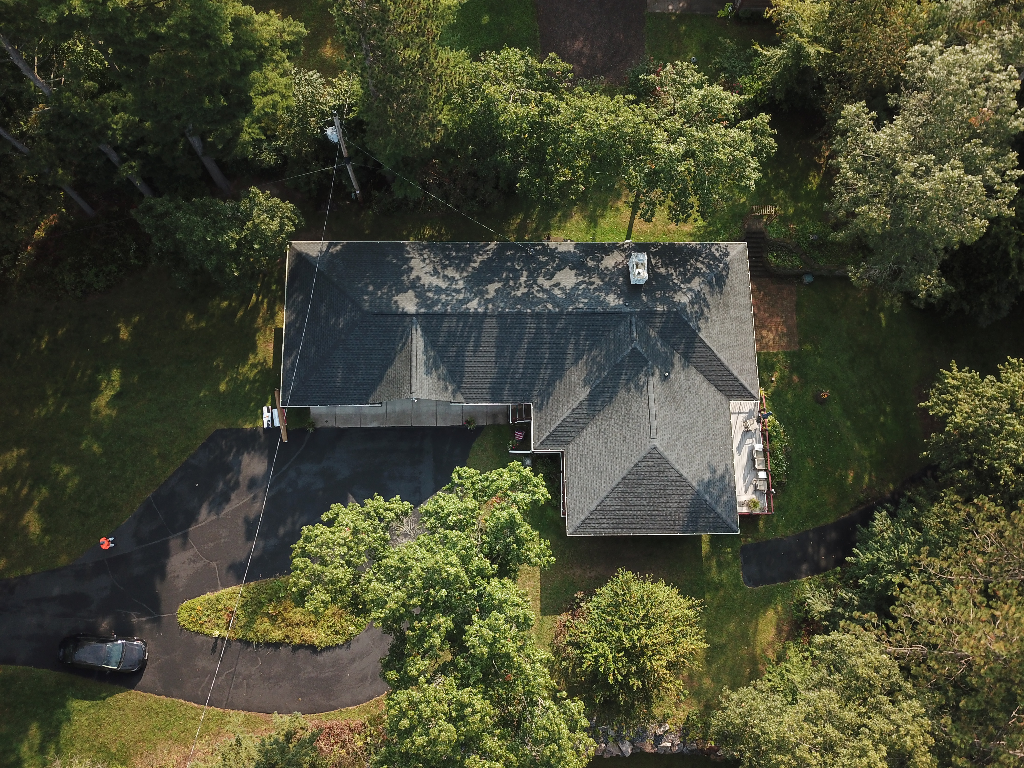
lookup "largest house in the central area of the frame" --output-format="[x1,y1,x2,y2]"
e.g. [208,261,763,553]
[281,240,759,536]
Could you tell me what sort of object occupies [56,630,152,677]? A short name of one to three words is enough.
car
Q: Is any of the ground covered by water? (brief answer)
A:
No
